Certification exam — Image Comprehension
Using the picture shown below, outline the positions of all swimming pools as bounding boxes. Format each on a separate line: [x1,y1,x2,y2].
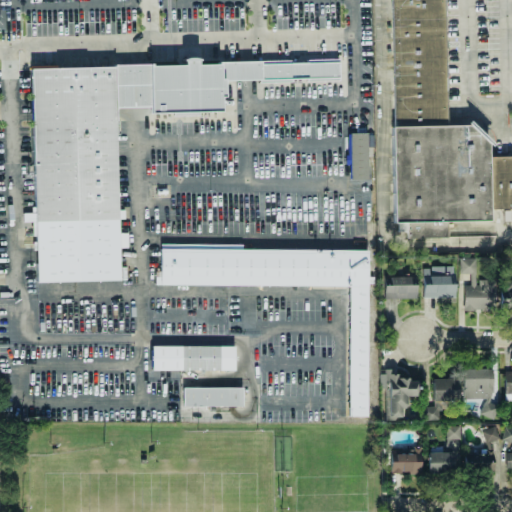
[462,425,483,448]
[465,400,482,416]
[390,430,419,446]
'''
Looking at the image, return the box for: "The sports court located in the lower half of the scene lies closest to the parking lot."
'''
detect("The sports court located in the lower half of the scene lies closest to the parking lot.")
[276,436,293,471]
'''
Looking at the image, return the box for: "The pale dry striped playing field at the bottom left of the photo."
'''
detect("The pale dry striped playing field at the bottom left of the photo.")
[0,419,274,512]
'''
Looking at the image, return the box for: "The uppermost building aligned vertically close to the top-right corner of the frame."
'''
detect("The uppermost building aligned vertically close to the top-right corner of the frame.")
[394,0,450,126]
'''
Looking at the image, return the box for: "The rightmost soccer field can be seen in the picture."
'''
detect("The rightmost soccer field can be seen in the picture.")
[275,421,371,512]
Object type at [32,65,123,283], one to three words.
building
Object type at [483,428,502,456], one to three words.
house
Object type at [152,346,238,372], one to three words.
shed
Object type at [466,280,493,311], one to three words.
house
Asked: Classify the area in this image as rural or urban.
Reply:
urban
